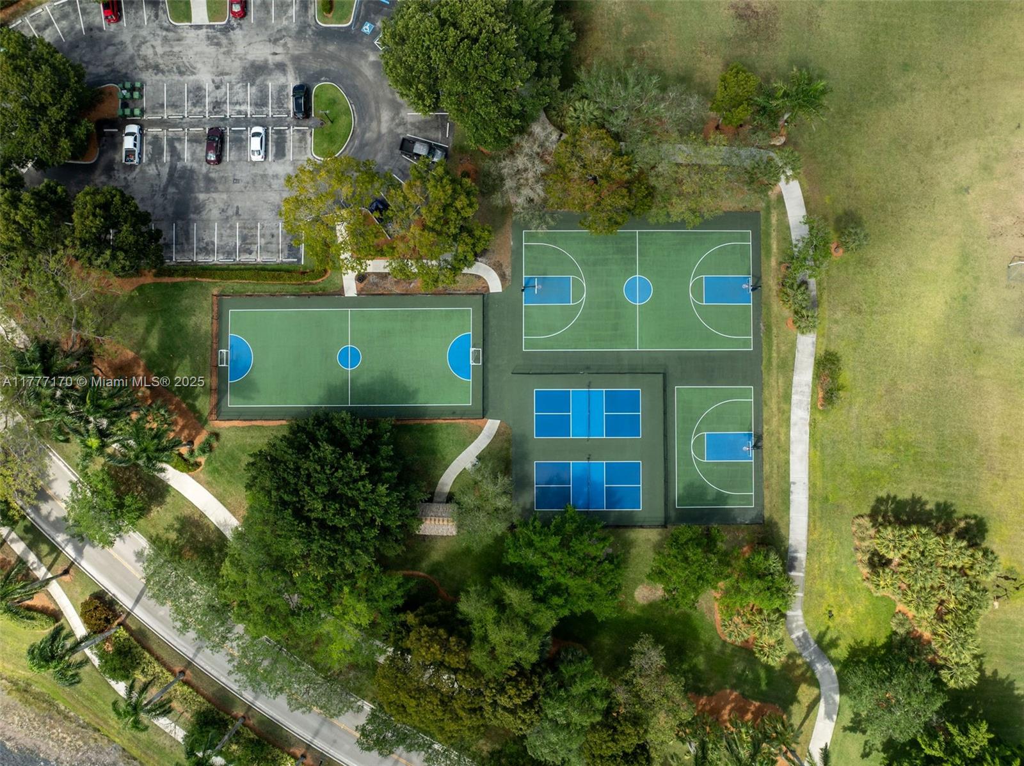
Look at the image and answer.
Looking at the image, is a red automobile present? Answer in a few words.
Yes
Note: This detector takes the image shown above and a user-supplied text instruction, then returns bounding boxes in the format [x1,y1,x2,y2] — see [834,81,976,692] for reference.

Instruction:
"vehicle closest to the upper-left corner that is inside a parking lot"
[101,0,122,25]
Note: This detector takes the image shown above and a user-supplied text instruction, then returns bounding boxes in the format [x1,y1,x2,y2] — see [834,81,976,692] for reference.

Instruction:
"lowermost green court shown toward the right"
[676,386,754,508]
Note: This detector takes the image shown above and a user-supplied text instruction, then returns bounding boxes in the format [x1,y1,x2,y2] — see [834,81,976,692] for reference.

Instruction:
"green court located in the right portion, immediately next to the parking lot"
[523,230,752,350]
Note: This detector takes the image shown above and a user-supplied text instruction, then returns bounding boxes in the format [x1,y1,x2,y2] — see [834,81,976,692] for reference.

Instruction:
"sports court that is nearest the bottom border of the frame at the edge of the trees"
[534,461,642,510]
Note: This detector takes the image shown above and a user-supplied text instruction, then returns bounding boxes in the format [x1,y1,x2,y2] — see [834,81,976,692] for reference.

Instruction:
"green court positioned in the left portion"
[217,294,482,420]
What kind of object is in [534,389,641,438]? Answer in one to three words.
sports court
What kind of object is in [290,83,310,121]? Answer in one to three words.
car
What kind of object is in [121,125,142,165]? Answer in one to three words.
truck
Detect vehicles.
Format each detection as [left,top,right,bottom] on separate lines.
[248,126,267,162]
[101,0,122,25]
[121,125,142,165]
[290,83,310,121]
[205,128,224,165]
[370,198,401,233]
[398,135,446,164]
[231,0,247,20]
